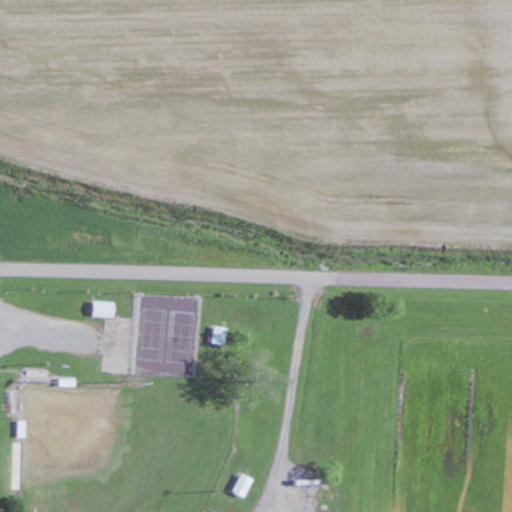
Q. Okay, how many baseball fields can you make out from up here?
1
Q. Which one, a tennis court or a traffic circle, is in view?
tennis court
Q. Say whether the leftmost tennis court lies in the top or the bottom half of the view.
bottom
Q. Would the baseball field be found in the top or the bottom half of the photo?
bottom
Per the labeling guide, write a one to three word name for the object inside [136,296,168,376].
tennis court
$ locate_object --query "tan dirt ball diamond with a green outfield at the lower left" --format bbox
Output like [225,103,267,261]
[12,376,144,504]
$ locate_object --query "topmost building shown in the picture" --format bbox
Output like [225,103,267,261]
[92,300,116,319]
